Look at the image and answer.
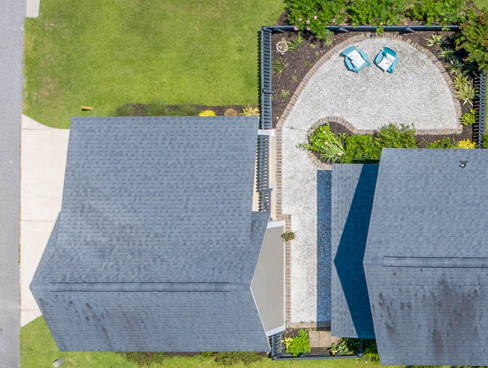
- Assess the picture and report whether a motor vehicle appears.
No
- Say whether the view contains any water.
No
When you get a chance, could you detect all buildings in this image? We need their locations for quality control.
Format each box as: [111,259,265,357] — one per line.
[32,117,286,352]
[330,148,488,367]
